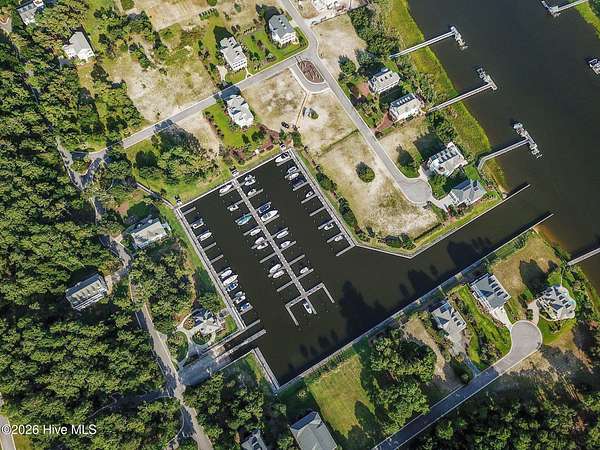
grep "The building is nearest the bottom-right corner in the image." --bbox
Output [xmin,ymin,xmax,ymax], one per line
[533,285,577,322]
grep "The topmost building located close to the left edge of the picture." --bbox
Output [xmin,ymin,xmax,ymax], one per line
[16,0,47,29]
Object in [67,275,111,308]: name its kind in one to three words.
house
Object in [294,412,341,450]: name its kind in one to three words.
house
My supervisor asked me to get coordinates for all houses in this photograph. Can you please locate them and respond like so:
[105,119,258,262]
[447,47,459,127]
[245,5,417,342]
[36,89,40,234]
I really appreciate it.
[294,412,341,450]
[124,215,172,250]
[270,13,296,50]
[446,179,487,206]
[16,0,47,29]
[226,94,254,130]
[386,93,425,125]
[219,34,250,77]
[465,271,507,308]
[190,306,230,338]
[533,285,577,322]
[425,144,468,176]
[363,68,401,100]
[244,427,273,450]
[67,275,111,308]
[315,0,346,14]
[429,297,465,339]
[64,32,101,64]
